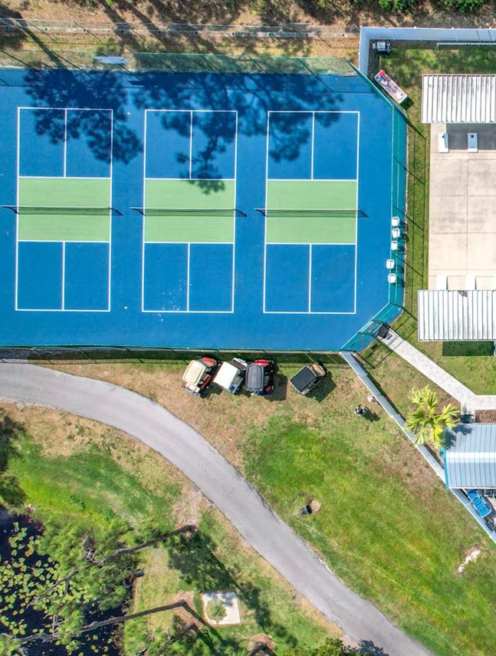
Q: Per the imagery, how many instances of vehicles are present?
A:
four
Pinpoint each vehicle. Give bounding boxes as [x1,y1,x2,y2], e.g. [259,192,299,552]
[283,360,328,397]
[242,356,274,398]
[176,354,218,397]
[206,355,249,397]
